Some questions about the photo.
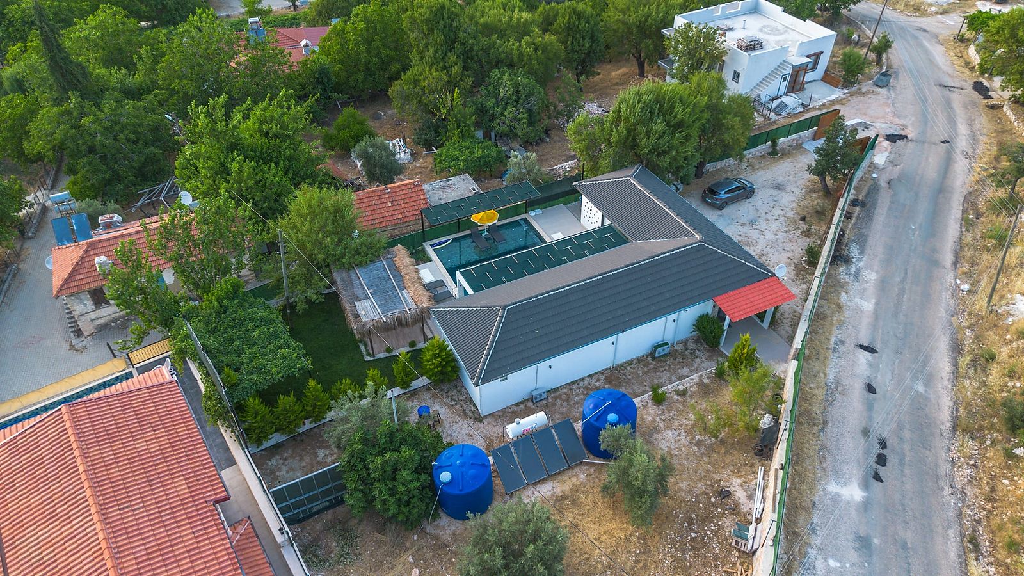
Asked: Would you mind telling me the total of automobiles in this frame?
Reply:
1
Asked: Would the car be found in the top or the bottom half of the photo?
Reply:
top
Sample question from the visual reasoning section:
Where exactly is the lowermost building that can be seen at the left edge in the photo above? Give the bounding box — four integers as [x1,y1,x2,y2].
[0,368,250,576]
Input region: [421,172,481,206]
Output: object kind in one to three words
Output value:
shed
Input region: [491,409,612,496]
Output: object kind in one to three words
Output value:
solar array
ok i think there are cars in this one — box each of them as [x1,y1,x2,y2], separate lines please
[695,172,760,211]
